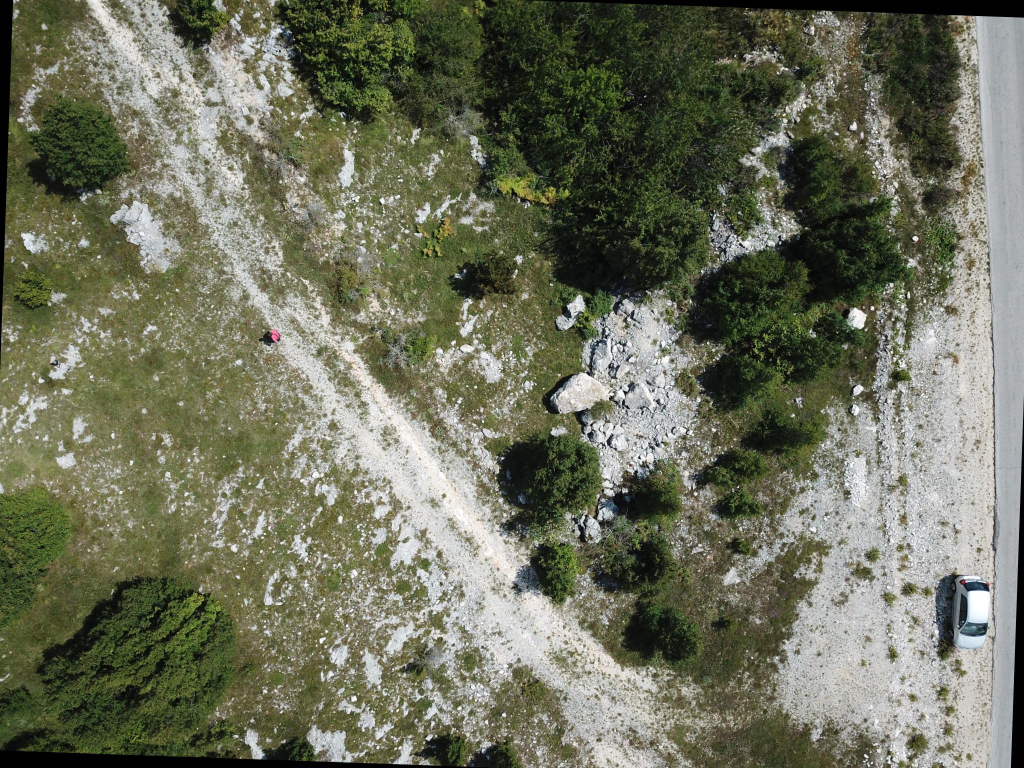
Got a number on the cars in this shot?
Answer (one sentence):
My tally gives 1 car in this photo.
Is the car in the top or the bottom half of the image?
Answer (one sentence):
Seen from above, the car lies in the bottom half of the view.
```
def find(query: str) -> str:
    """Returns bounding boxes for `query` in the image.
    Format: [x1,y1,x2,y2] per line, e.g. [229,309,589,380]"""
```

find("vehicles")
[951,574,996,651]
